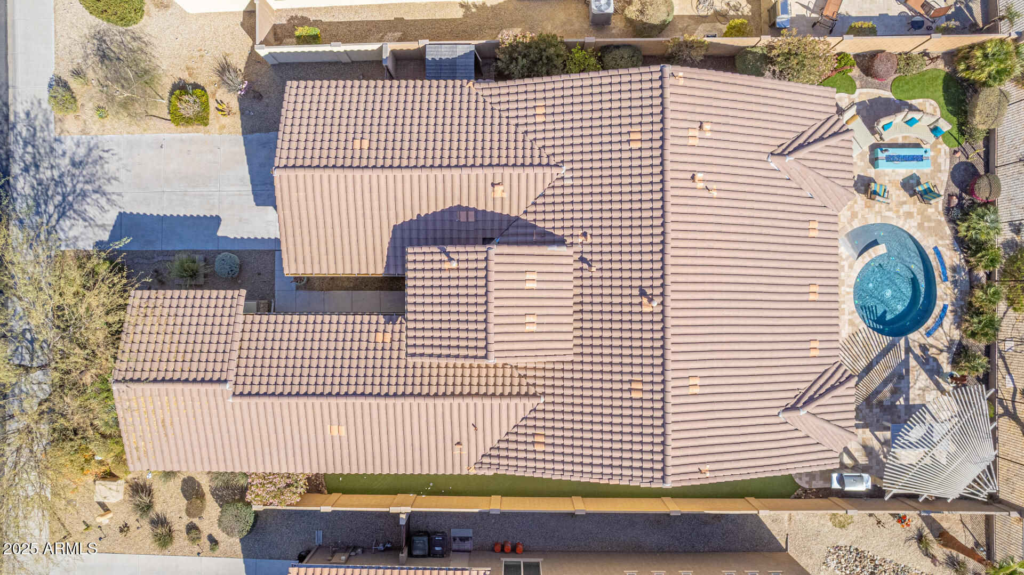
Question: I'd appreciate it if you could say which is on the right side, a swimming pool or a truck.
swimming pool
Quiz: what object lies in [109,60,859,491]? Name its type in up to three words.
house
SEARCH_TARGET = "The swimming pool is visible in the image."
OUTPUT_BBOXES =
[839,213,948,347]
